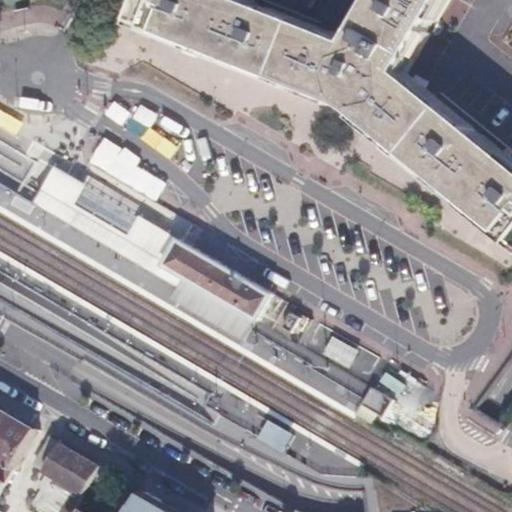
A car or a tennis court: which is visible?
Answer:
car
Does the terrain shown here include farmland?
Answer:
No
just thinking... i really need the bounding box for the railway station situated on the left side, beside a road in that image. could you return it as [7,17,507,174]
[0,165,364,475]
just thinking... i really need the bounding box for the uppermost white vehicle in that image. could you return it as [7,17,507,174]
[20,98,52,112]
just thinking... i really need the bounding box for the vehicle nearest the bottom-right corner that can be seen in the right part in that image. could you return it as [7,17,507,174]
[404,364,426,382]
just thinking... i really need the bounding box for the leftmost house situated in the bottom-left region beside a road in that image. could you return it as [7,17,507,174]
[0,405,38,490]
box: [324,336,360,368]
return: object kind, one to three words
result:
shed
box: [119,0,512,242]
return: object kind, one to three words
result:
building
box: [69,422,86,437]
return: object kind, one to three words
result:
car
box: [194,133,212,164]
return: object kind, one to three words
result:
vehicle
